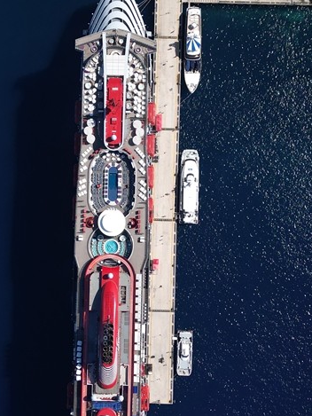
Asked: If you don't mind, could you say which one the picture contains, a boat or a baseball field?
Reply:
boat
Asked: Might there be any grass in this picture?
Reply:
No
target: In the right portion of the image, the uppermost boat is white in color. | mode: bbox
[183,4,202,93]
